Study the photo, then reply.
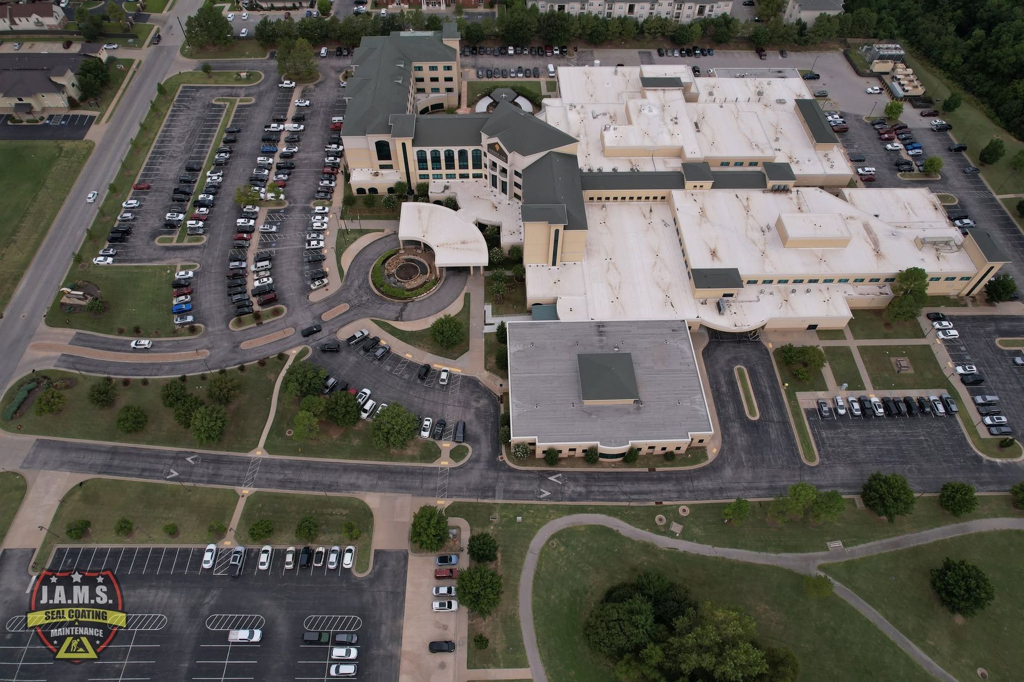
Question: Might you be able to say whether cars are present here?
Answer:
Yes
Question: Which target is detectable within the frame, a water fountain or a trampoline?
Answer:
water fountain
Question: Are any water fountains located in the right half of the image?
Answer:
No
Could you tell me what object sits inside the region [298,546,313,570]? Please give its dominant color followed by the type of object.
black car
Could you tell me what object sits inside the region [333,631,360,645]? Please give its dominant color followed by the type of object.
gray car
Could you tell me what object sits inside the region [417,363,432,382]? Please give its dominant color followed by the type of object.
black car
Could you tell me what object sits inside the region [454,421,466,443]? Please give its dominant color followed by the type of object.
gray vehicle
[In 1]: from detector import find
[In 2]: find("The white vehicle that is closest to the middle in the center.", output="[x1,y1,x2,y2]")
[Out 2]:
[438,368,450,386]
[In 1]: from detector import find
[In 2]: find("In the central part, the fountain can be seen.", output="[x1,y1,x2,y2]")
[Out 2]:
[385,256,435,301]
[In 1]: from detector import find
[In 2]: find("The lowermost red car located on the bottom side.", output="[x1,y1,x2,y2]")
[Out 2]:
[434,567,460,581]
